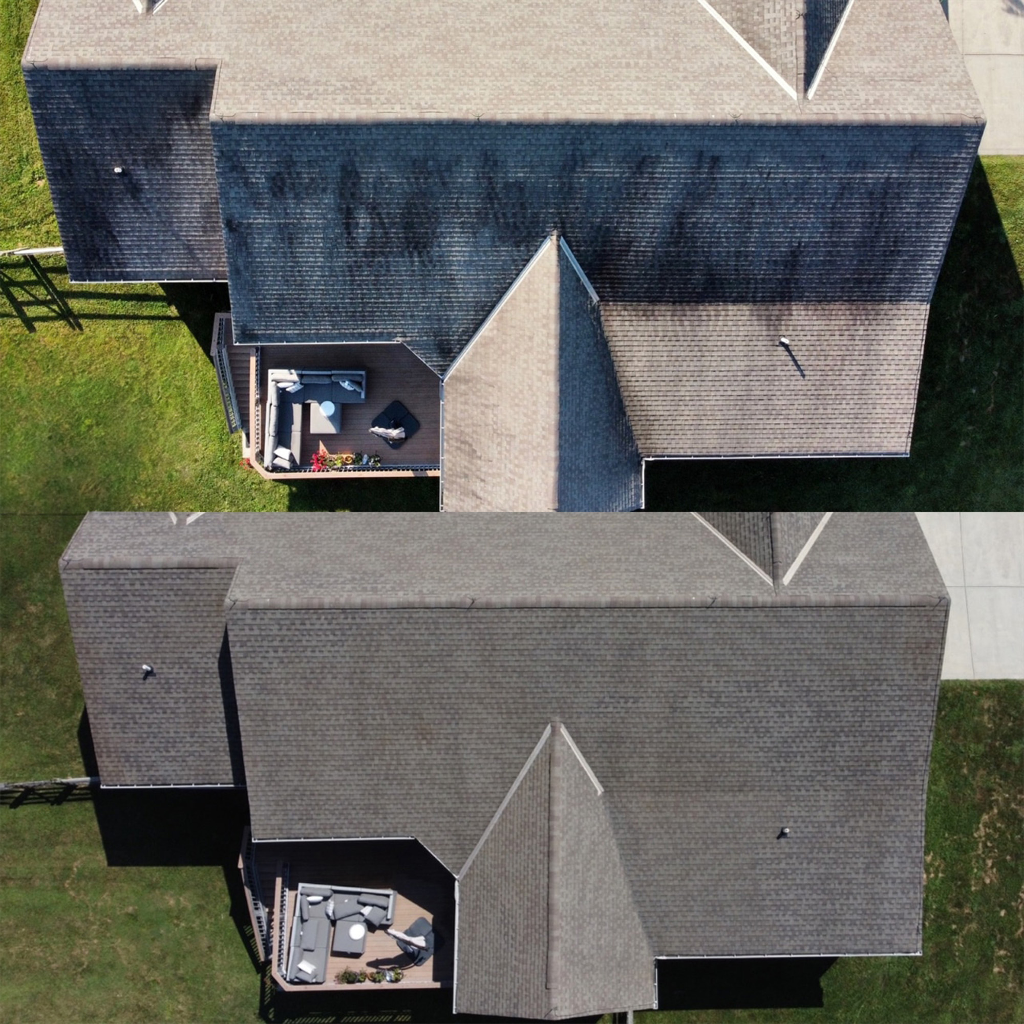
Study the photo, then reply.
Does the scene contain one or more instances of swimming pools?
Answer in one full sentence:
No, no swimming pool is visible in the scene.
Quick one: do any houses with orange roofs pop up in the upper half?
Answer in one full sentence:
No, no house with an orange roof is visible in the upper half.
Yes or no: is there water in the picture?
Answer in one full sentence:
No, there's no water in this view.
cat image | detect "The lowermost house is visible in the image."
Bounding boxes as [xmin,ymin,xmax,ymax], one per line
[61,511,949,1021]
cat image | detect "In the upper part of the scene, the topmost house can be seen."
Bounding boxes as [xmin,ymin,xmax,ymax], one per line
[23,0,986,512]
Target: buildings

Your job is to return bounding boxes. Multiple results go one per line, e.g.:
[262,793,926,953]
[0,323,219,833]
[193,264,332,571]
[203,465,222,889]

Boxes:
[61,511,949,1021]
[23,0,986,512]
